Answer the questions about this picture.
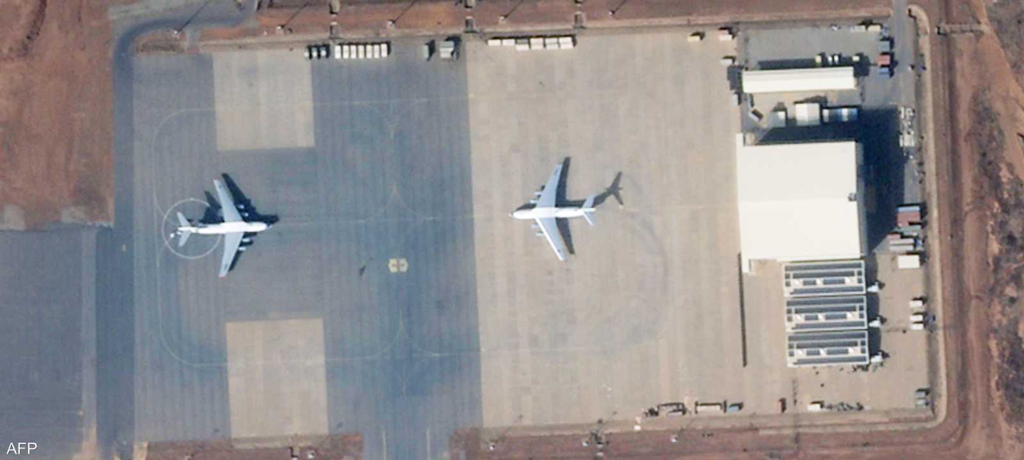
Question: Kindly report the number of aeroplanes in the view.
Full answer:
In total, 2 aeroplanes can be seen.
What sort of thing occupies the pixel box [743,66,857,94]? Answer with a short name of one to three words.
shed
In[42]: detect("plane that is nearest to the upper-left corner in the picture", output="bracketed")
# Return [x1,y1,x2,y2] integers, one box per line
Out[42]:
[177,179,271,277]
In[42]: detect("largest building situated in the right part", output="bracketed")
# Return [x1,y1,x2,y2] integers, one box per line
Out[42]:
[736,133,868,274]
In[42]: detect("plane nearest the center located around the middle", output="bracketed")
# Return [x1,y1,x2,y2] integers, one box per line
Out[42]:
[510,164,598,262]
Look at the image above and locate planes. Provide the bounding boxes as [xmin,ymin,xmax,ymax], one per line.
[510,164,598,262]
[177,179,271,277]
